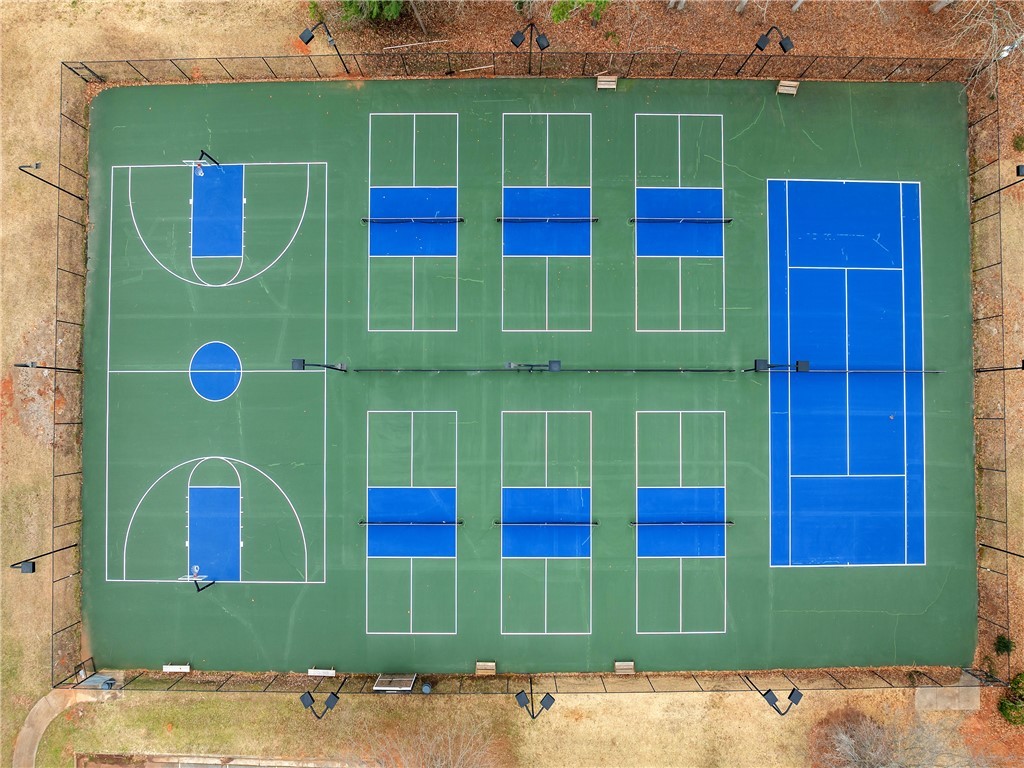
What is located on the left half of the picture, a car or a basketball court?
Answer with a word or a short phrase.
basketball court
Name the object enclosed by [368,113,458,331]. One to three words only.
sports court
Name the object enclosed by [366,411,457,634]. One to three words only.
sports court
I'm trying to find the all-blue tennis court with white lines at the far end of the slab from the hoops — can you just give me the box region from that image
[767,179,926,568]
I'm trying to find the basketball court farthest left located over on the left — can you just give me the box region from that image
[105,162,328,583]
